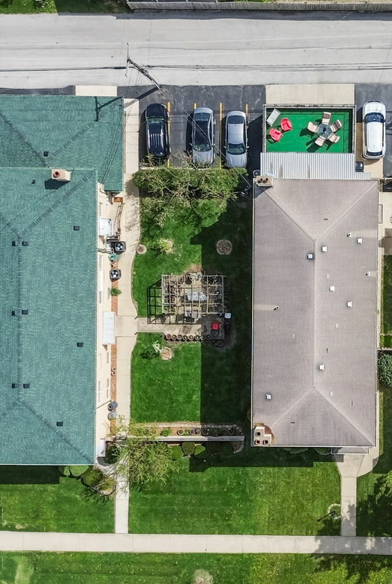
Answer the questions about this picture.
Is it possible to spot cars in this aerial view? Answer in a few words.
Yes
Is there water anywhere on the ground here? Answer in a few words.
No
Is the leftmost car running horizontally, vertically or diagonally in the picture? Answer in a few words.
vertically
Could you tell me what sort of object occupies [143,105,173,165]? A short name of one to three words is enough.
car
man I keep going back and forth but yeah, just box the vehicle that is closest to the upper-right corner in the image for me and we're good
[360,103,388,160]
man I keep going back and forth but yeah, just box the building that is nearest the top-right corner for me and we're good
[262,101,356,173]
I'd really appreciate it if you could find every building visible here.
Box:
[0,167,116,467]
[262,101,356,173]
[250,177,384,454]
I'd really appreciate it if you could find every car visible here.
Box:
[360,103,388,160]
[222,112,249,171]
[143,105,173,165]
[190,108,216,165]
